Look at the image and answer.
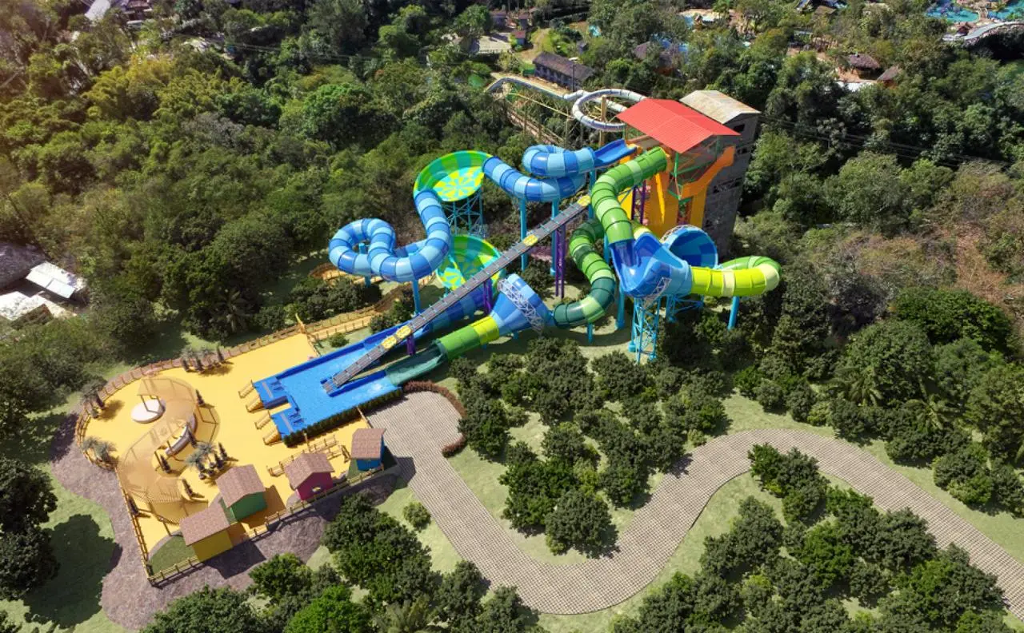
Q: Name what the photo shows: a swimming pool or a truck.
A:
swimming pool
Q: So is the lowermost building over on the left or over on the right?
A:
left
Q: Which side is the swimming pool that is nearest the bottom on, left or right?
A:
left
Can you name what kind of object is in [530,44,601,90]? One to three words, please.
building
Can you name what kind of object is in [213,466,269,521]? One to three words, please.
building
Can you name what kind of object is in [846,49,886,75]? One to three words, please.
shed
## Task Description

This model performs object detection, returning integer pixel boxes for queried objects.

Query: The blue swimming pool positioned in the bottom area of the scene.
[255,322,399,442]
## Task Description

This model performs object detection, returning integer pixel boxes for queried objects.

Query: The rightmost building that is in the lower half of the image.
[345,420,385,468]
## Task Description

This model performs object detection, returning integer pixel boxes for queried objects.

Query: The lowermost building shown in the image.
[175,496,233,562]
